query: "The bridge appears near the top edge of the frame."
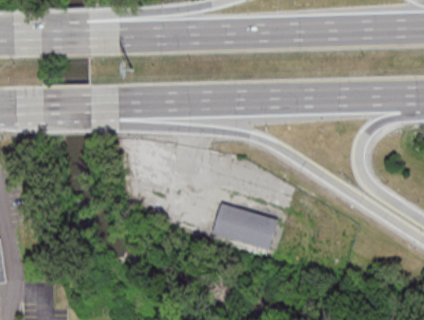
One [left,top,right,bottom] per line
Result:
[42,6,92,58]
